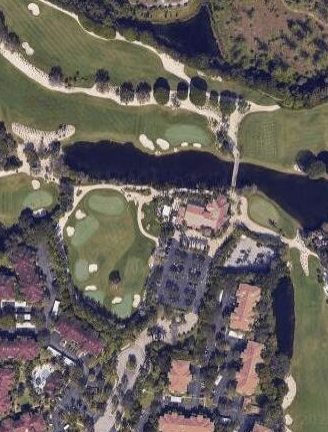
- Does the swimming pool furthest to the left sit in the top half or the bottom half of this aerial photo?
bottom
